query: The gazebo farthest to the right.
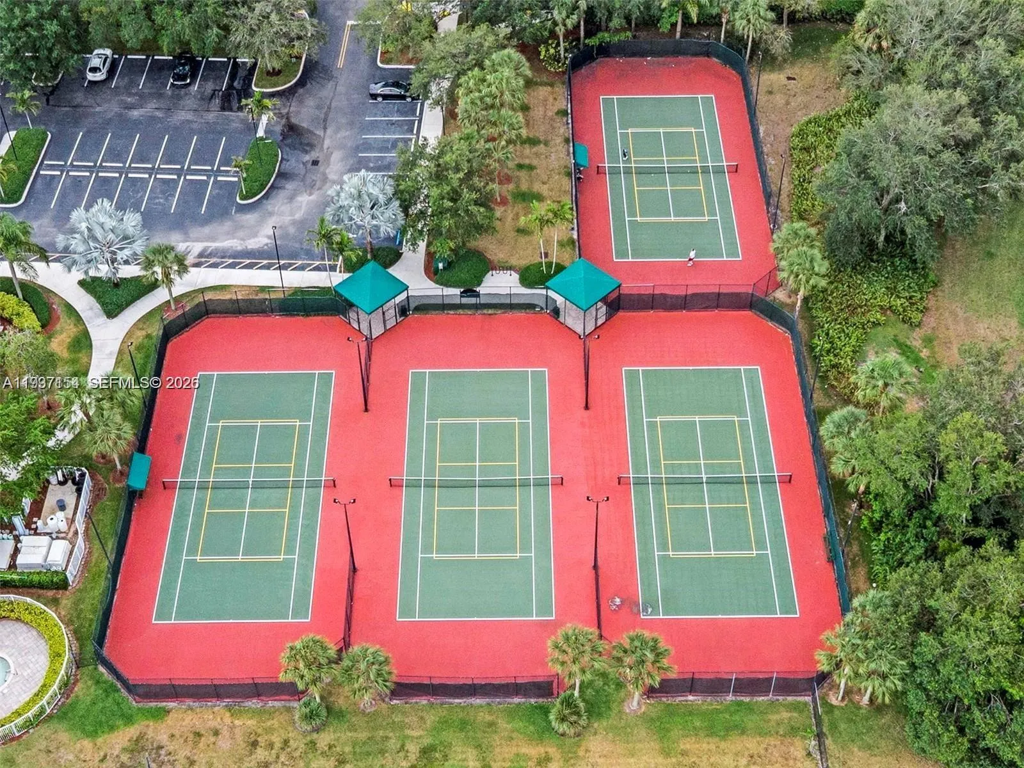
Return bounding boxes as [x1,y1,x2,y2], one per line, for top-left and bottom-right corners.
[545,258,623,337]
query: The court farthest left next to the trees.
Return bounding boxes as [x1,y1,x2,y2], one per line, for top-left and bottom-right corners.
[102,316,370,701]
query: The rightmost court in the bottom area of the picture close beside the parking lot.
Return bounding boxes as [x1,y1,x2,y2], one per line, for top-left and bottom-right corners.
[584,312,844,696]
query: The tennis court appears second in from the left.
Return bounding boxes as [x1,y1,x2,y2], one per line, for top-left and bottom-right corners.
[351,314,599,699]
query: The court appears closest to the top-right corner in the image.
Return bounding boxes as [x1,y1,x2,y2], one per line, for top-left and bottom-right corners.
[569,57,780,313]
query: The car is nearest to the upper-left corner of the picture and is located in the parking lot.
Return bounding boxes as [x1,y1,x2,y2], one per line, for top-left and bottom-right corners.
[87,48,115,78]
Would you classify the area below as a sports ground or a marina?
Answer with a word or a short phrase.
sports ground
